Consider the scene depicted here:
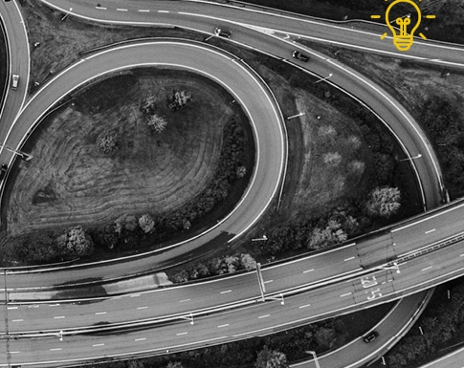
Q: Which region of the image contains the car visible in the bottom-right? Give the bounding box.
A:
[363,330,380,344]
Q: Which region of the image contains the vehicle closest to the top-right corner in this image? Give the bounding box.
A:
[293,49,310,62]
